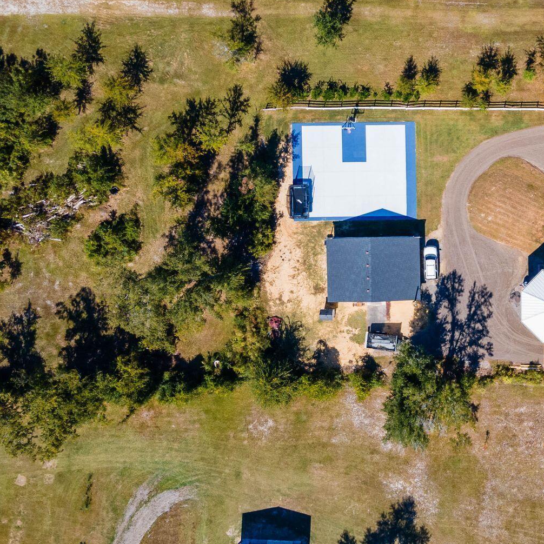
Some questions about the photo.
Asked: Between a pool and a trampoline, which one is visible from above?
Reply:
trampoline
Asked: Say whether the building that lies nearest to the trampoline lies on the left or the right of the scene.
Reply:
right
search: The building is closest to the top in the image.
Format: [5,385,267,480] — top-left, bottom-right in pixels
[327,237,422,303]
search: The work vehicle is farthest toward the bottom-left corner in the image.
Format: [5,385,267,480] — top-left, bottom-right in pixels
[263,313,280,339]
